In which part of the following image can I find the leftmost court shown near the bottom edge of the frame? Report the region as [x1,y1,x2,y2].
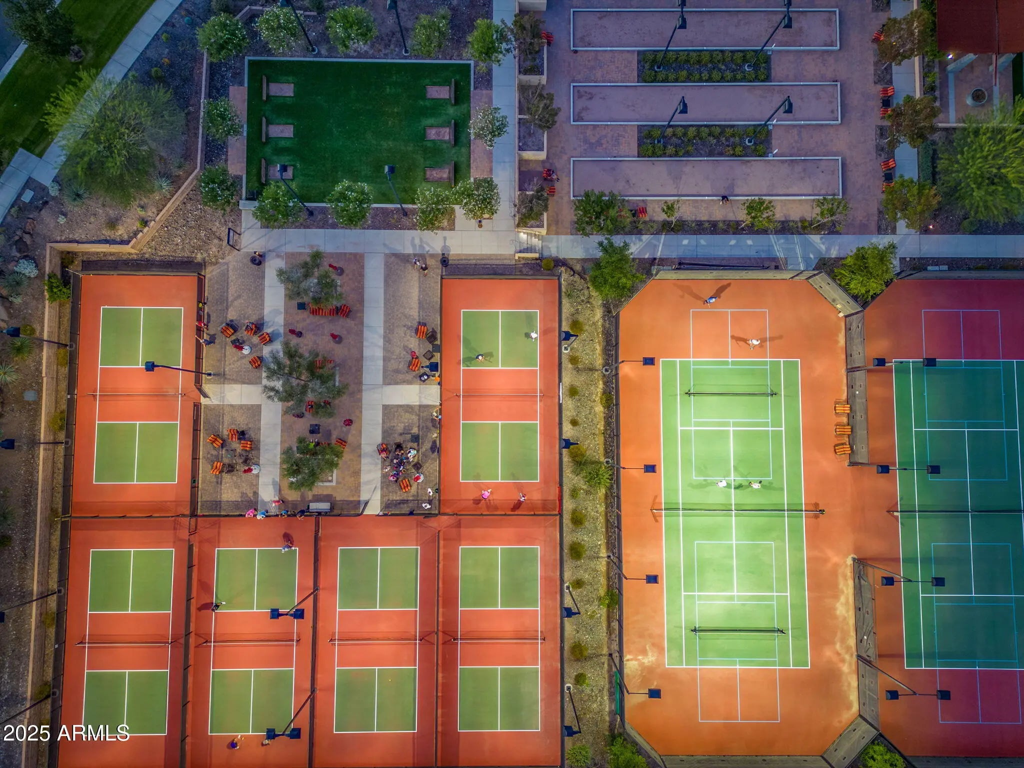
[59,516,192,768]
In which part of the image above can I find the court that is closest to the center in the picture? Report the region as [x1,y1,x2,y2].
[441,278,560,515]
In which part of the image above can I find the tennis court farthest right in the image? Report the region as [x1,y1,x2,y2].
[846,280,1024,756]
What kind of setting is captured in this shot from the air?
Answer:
sports ground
